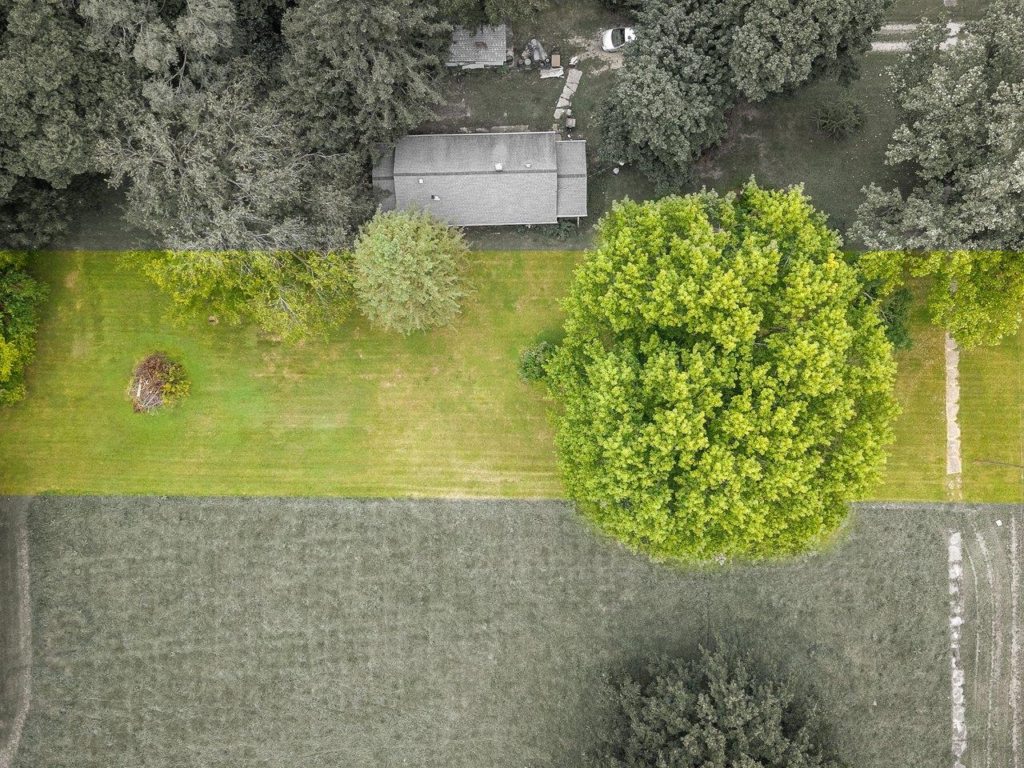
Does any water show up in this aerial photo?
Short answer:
No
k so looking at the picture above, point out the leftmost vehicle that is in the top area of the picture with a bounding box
[532,40,548,63]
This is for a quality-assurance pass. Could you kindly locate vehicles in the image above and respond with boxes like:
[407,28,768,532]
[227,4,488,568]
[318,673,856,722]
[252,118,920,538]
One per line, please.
[532,40,548,63]
[603,22,641,48]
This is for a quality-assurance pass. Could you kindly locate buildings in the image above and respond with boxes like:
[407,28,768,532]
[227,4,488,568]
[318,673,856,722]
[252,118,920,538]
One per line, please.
[452,18,506,68]
[368,132,588,230]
